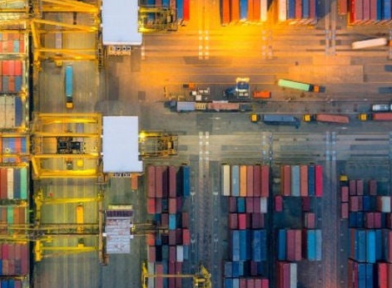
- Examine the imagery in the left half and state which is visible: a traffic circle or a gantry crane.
gantry crane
